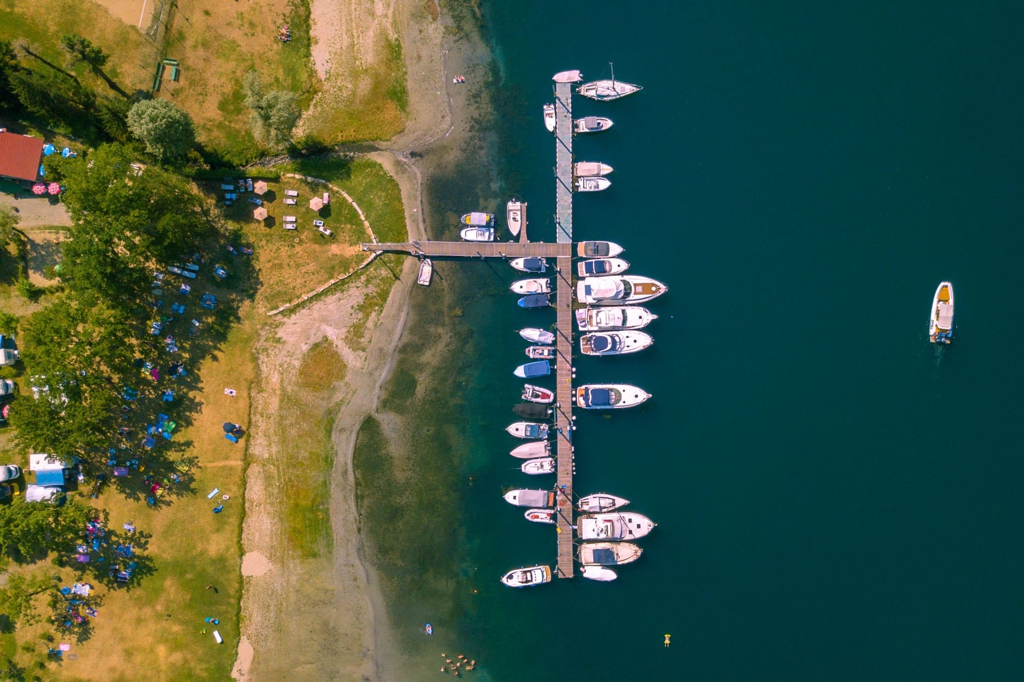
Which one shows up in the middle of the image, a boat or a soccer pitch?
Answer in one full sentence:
There is a boat in the middle of the image.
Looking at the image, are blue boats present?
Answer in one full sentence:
Yes, there's a blue boat down there.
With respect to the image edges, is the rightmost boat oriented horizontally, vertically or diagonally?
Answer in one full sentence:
The rightmost boat has been laid out vertically relative to the frame.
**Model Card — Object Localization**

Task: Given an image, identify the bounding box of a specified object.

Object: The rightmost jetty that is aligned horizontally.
[414,241,573,257]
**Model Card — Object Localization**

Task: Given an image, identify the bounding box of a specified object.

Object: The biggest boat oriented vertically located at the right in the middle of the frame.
[929,282,955,343]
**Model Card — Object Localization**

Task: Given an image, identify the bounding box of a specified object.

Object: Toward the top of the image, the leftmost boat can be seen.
[418,259,433,285]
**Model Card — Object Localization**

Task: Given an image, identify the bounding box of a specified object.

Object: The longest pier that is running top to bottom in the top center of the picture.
[556,82,572,241]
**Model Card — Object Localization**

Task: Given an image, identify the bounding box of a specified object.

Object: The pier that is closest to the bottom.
[558,257,573,577]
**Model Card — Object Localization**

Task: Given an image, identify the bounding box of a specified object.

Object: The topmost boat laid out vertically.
[544,101,557,132]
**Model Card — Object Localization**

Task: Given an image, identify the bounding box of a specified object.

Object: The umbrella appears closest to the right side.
[310,197,323,211]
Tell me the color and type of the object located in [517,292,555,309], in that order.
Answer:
blue boat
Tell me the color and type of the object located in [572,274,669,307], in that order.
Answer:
white boat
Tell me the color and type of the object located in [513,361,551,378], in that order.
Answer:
blue boat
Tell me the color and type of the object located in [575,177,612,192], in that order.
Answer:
white boat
